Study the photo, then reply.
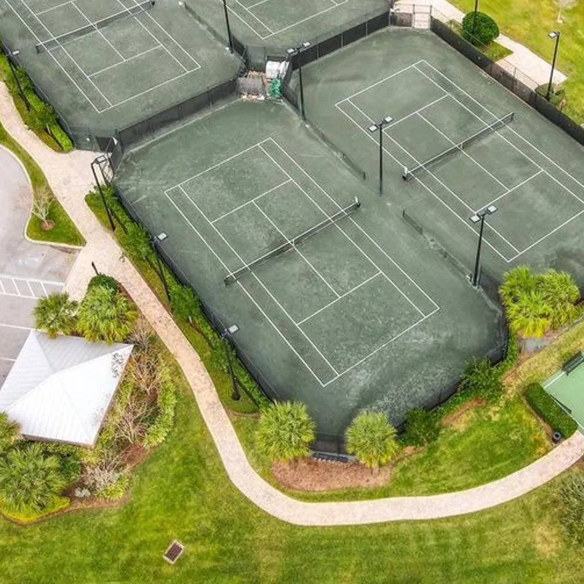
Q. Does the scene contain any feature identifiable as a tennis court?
Yes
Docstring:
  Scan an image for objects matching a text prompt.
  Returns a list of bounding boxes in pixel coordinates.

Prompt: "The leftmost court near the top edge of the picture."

[0,0,247,152]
